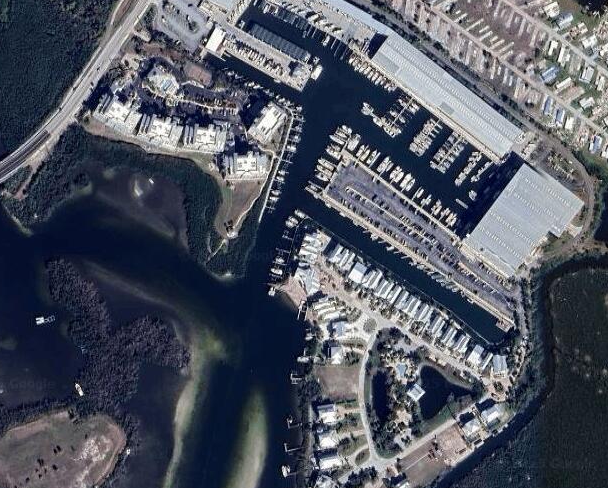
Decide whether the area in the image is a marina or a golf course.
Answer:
marina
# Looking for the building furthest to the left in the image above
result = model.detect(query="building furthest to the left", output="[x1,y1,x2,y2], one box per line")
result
[93,100,141,139]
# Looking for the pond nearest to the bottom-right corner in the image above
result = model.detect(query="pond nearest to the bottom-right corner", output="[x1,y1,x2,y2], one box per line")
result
[418,365,469,421]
